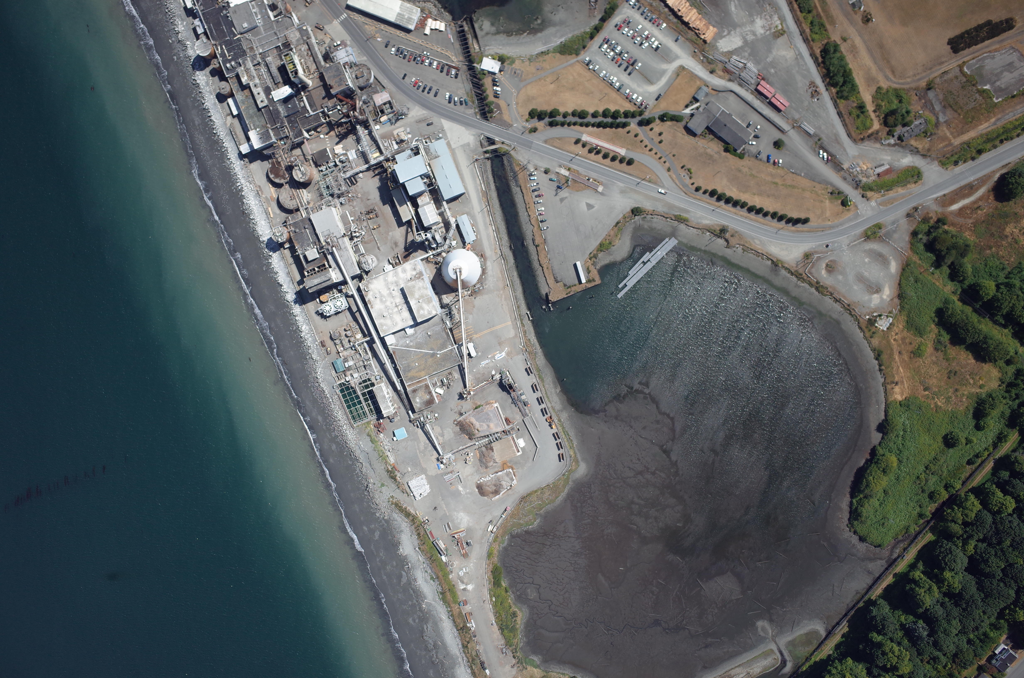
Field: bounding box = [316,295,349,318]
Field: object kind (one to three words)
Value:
cooling tower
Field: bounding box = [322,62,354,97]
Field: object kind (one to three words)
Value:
building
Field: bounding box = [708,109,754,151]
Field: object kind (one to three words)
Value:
building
